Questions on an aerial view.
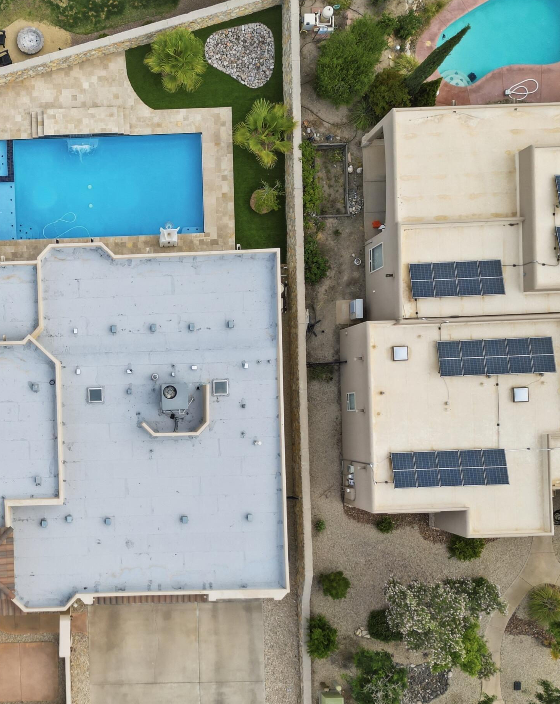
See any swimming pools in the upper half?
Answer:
Yes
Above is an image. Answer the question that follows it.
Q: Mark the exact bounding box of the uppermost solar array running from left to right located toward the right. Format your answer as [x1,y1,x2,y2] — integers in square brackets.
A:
[409,260,505,298]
